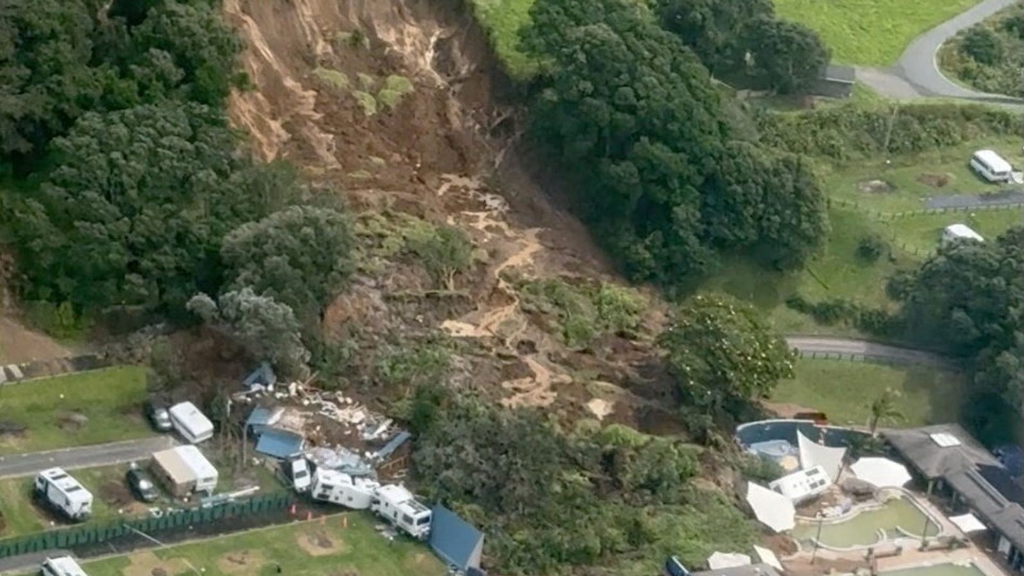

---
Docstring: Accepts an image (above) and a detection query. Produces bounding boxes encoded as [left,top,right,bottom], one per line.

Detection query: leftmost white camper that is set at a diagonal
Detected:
[39,470,92,527]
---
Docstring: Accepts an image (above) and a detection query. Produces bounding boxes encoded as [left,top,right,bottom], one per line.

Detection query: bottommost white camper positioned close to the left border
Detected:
[44,552,88,576]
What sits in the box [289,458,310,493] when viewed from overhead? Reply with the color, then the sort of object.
white car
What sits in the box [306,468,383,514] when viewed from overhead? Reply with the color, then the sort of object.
white camper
